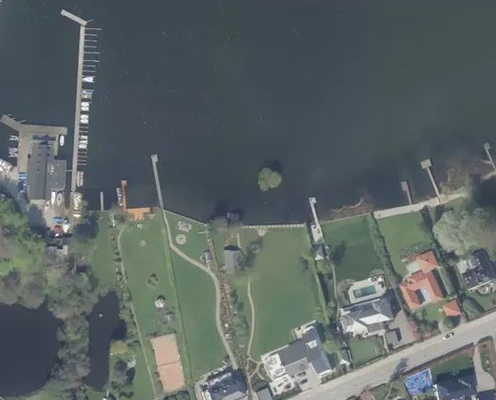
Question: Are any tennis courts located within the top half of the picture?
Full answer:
No, no tennis court is visible within the top half of the picture.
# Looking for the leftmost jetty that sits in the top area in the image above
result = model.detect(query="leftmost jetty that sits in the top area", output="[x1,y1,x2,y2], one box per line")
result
[0,114,67,174]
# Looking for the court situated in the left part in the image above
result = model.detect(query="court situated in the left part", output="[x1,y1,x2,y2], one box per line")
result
[150,334,184,391]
